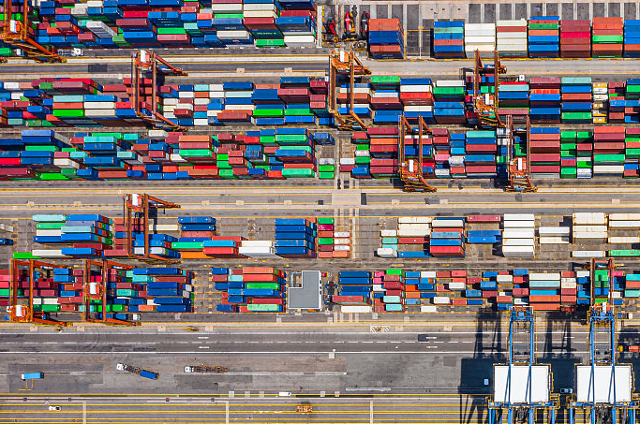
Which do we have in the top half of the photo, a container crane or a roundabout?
container crane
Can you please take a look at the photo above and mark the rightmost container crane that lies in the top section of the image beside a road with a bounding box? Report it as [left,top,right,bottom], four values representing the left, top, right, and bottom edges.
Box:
[503,112,539,190]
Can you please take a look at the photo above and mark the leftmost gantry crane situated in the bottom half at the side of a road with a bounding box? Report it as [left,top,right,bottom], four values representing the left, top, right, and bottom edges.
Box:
[9,257,78,324]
